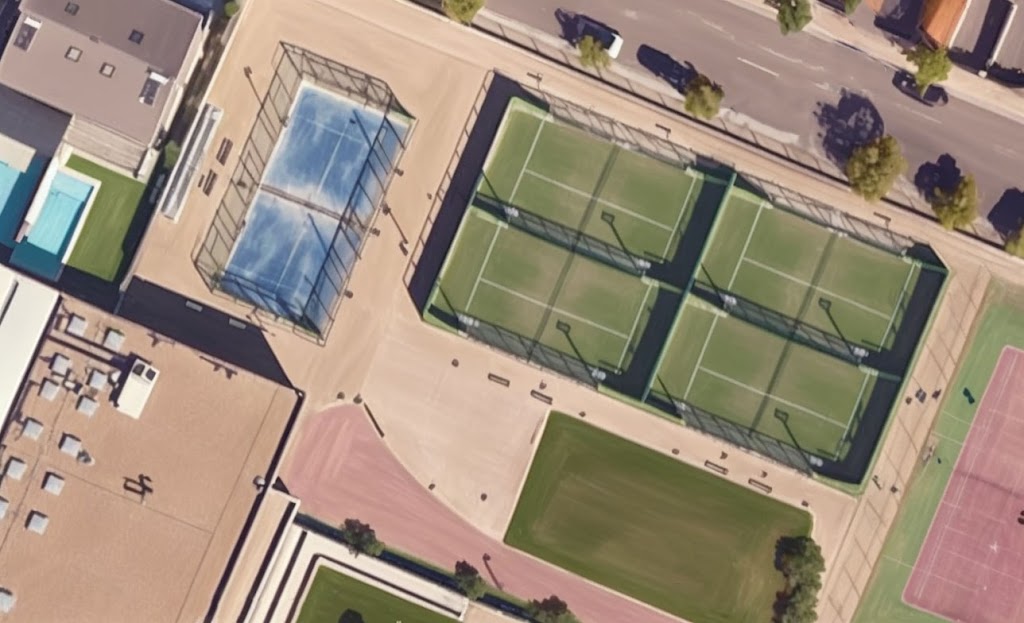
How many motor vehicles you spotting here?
3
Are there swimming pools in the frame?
Yes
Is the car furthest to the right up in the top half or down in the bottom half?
top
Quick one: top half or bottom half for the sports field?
bottom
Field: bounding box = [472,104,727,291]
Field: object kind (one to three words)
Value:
sports court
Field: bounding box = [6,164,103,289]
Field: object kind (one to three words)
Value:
swimming pool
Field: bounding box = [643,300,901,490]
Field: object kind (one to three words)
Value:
sports court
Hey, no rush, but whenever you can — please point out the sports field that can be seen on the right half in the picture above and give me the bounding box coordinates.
[501,408,815,623]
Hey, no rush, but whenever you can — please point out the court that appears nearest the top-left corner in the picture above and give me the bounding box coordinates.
[209,79,413,336]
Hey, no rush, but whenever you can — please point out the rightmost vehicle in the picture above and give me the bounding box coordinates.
[893,74,948,110]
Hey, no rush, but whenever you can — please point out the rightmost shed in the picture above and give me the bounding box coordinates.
[921,0,964,50]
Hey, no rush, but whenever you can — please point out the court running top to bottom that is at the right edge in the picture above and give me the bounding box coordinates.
[855,286,1024,623]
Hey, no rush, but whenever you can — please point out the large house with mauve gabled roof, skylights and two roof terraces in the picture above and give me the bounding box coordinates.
[0,0,204,155]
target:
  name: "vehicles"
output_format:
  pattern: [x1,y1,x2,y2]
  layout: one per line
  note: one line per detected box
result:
[635,48,693,89]
[893,74,948,110]
[570,18,626,57]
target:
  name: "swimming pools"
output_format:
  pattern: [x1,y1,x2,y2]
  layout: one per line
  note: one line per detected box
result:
[0,154,47,249]
[6,164,103,289]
